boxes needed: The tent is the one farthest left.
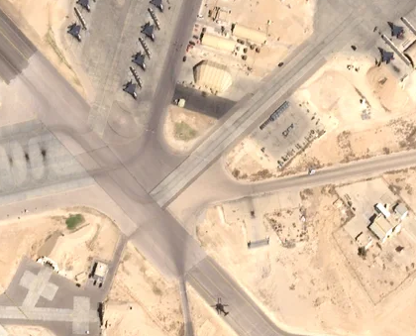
[200,33,235,52]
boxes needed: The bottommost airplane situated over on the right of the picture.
[379,48,394,64]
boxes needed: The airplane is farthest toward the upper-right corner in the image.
[390,21,405,38]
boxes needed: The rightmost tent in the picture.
[232,23,265,43]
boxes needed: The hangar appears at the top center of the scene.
[192,60,232,92]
